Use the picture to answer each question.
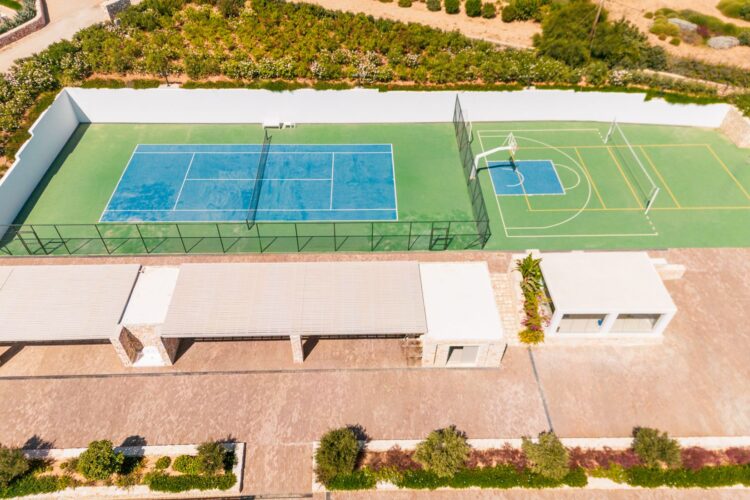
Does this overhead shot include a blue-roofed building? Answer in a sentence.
No, I can see no blue-roofed building in this picture.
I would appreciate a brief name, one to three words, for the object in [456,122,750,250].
basketball court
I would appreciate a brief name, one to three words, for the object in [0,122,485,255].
tennis court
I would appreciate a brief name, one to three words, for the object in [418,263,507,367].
building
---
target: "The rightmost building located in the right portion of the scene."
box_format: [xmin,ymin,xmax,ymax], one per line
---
[532,252,677,338]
